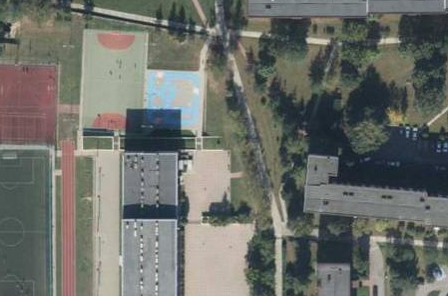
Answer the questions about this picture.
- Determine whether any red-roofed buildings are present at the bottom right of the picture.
No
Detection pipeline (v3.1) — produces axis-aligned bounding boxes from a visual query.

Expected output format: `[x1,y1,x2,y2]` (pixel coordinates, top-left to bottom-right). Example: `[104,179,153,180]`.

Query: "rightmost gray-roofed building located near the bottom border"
[318,262,352,296]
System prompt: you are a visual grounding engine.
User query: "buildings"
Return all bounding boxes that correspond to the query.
[246,0,448,19]
[119,153,185,296]
[303,155,448,227]
[318,262,352,296]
